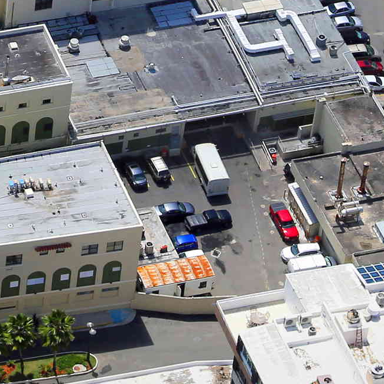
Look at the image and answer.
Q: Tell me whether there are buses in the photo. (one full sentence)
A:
Yes, I can see a bus in this picture.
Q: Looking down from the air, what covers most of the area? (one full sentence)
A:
The largest share of the image is taken up by buildings.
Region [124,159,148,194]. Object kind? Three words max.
car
